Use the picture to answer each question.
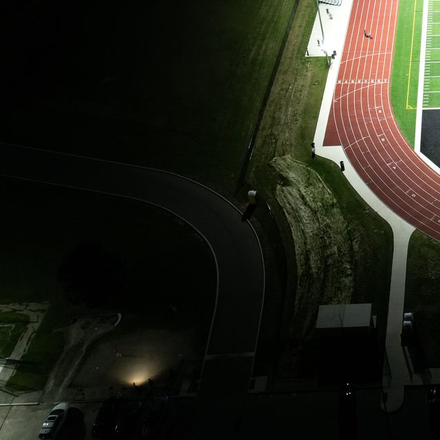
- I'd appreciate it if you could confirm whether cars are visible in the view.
Yes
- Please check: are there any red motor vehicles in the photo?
No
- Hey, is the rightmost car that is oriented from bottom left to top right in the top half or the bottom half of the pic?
bottom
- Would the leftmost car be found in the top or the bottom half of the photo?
bottom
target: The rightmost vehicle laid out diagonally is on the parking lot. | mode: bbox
[130,391,172,436]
